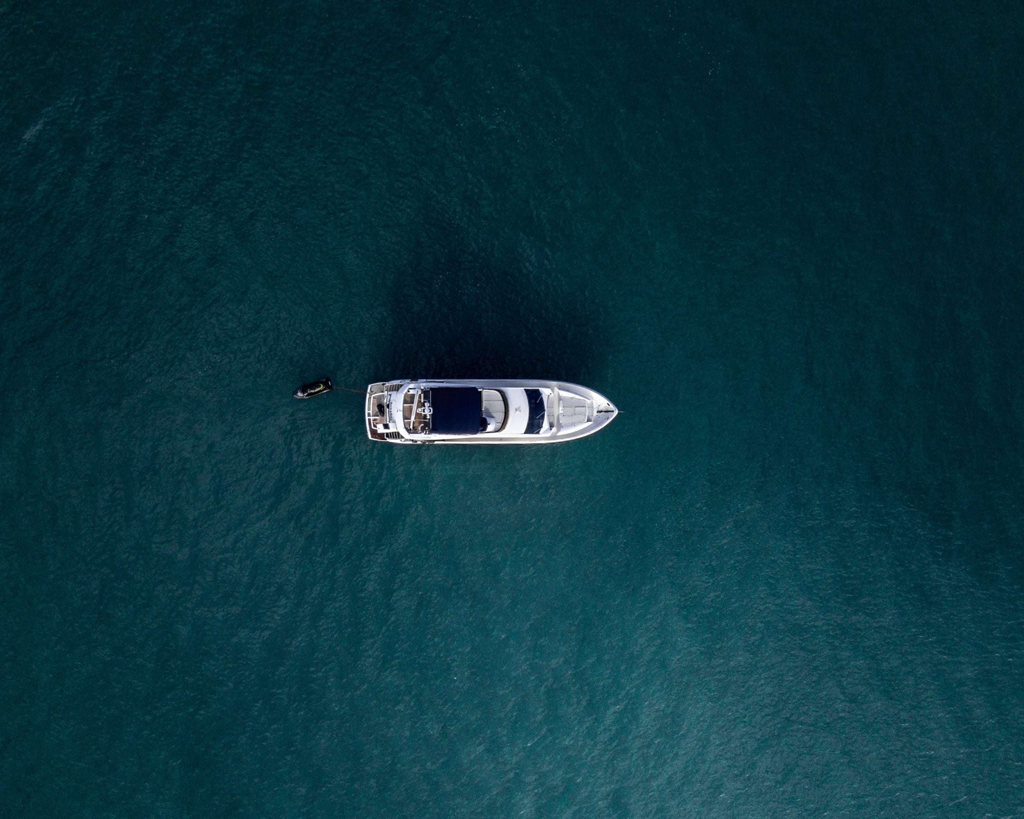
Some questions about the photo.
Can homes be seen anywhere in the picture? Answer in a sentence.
No, no home is visible in the view.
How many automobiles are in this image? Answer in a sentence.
Not a single automobile can be seen.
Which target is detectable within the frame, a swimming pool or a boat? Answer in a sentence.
Visible in the photo is a boat.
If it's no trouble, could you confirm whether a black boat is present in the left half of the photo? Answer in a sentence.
Yes, a black boat is visible in the left half of the photo.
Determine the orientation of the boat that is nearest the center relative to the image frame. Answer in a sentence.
The boat that is nearest the center is laid out from left to right.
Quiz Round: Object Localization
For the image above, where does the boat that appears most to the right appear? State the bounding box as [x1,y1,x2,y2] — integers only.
[365,379,626,444]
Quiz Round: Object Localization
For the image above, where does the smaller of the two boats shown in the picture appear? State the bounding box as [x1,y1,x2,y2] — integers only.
[292,378,331,398]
